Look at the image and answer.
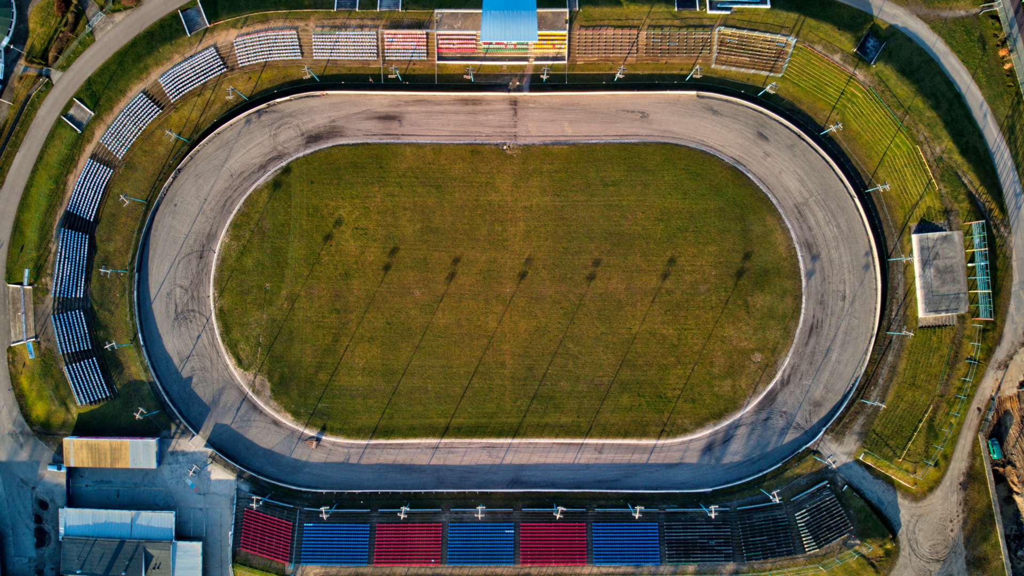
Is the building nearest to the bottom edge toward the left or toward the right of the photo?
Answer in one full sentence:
The building nearest to the bottom edge is on the left side of the image.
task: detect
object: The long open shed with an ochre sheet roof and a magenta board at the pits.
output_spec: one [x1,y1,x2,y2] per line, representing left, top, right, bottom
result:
[63,437,162,468]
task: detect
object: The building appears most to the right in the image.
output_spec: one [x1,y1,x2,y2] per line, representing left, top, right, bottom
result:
[912,230,968,316]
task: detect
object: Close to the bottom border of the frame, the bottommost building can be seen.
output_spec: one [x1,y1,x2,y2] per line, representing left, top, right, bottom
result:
[59,506,206,576]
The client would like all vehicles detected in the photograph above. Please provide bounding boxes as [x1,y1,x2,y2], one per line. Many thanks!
[988,437,1005,461]
[302,440,319,450]
[44,462,66,471]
